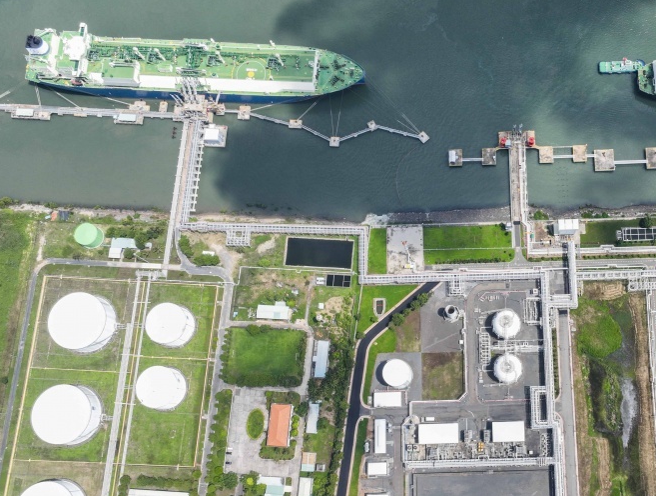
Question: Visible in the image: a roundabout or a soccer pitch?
soccer pitch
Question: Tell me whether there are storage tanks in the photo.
Yes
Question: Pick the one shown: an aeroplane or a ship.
ship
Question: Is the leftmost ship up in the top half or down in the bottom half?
top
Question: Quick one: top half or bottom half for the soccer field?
bottom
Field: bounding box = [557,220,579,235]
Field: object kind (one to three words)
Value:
house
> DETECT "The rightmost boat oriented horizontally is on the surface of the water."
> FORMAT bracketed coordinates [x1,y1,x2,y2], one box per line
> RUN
[599,60,642,74]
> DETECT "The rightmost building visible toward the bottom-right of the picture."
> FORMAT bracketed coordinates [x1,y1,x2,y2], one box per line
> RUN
[492,421,525,442]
